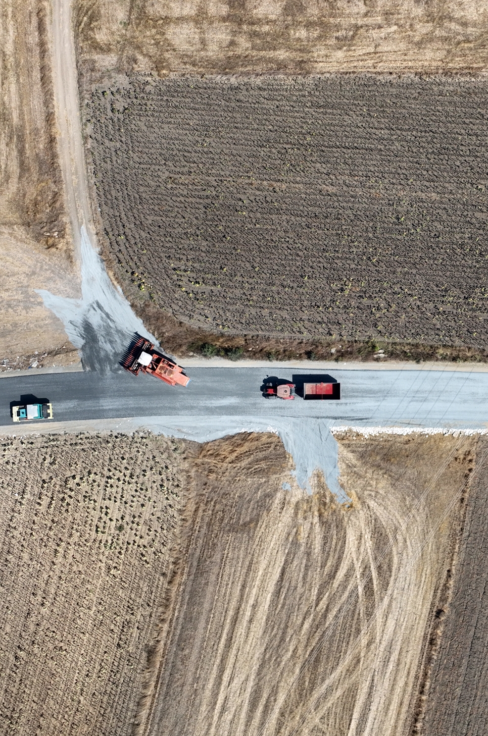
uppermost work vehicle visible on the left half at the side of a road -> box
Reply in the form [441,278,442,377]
[124,338,191,387]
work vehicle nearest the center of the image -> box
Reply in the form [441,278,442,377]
[263,384,298,402]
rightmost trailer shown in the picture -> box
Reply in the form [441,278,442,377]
[296,382,340,402]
